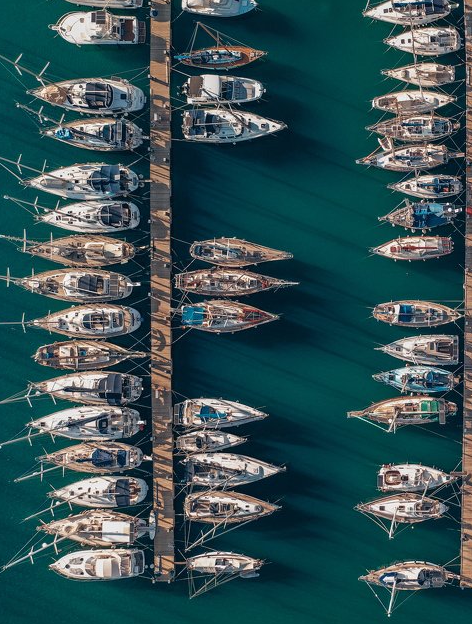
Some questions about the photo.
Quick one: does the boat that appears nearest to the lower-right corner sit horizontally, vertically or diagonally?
horizontally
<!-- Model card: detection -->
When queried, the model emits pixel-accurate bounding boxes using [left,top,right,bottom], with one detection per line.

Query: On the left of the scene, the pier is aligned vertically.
[147,0,178,582]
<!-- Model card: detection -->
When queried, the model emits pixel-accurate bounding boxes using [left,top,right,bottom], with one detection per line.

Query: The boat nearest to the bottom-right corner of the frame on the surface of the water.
[352,561,461,616]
